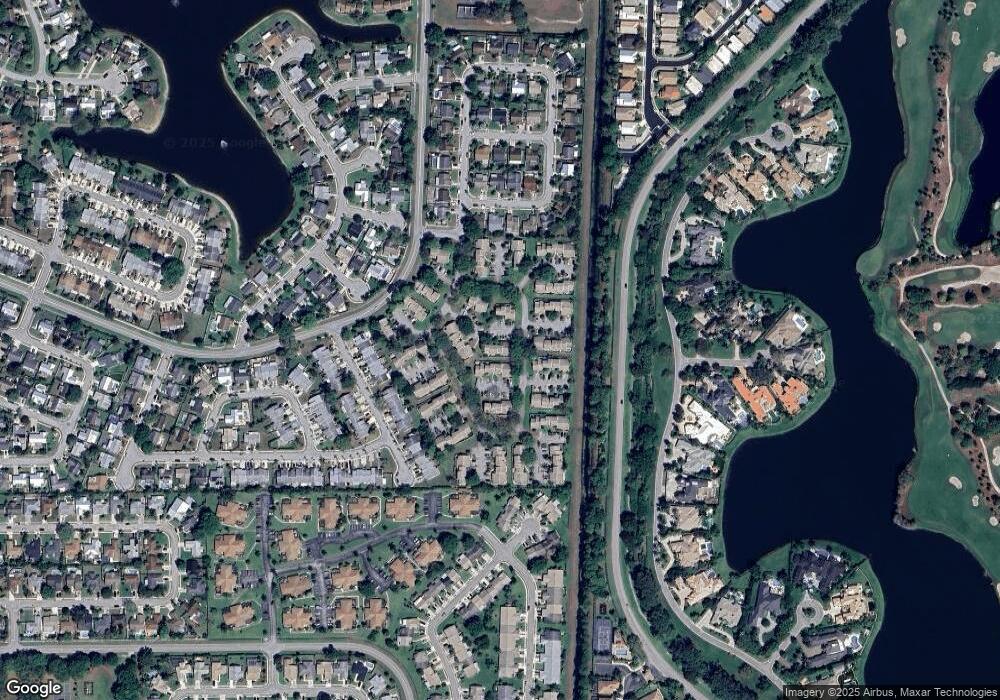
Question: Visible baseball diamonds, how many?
zero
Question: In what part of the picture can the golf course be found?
right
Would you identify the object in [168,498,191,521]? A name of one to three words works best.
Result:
house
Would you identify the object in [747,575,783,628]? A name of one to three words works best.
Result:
house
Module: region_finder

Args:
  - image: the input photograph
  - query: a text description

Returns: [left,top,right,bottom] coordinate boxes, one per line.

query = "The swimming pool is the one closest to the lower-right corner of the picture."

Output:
[848,633,862,650]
